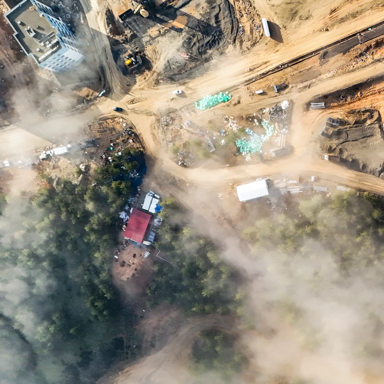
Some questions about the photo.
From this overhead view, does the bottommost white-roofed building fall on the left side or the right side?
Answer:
right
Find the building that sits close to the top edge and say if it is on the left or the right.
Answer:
left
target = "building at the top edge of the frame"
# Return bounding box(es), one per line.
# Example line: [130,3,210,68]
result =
[2,0,81,75]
